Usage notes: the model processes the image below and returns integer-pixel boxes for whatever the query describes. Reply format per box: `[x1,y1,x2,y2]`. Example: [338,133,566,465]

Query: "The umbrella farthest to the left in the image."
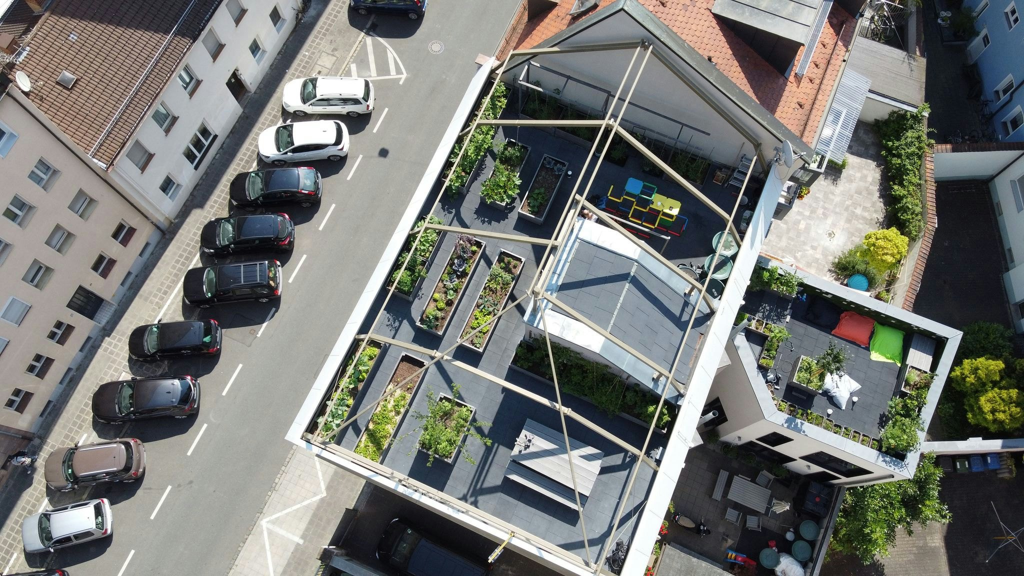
[764,494,792,517]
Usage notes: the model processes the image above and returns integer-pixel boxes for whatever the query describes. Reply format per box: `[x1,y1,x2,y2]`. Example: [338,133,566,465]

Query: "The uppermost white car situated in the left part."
[282,74,376,121]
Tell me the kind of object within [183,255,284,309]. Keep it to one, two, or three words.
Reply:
car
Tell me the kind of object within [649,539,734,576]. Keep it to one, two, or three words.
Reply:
building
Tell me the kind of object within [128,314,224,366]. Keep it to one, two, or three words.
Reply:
car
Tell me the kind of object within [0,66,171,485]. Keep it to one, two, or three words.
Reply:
house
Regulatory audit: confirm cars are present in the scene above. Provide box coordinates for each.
[282,74,376,121]
[200,210,297,259]
[257,120,351,167]
[21,497,117,557]
[229,165,324,213]
[91,371,203,426]
[347,0,428,19]
[183,255,284,309]
[128,314,224,366]
[43,435,150,492]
